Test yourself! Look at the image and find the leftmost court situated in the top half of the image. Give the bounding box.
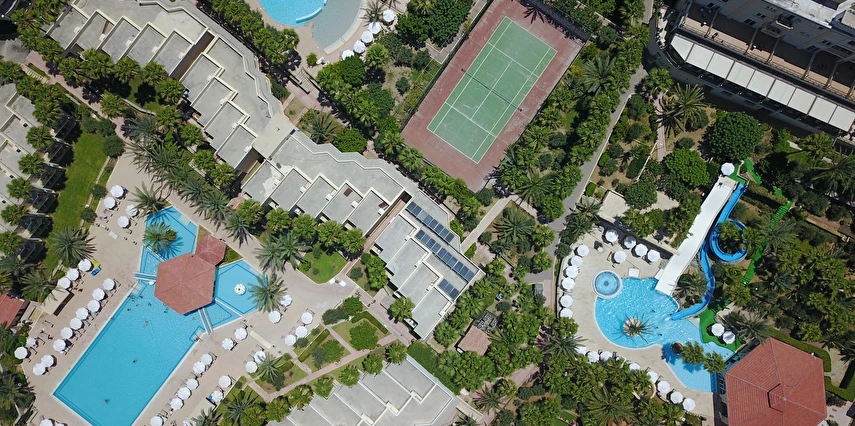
[401,0,586,193]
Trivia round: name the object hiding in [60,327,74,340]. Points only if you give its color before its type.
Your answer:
white umbrella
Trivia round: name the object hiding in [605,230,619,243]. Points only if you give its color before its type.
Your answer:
white umbrella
